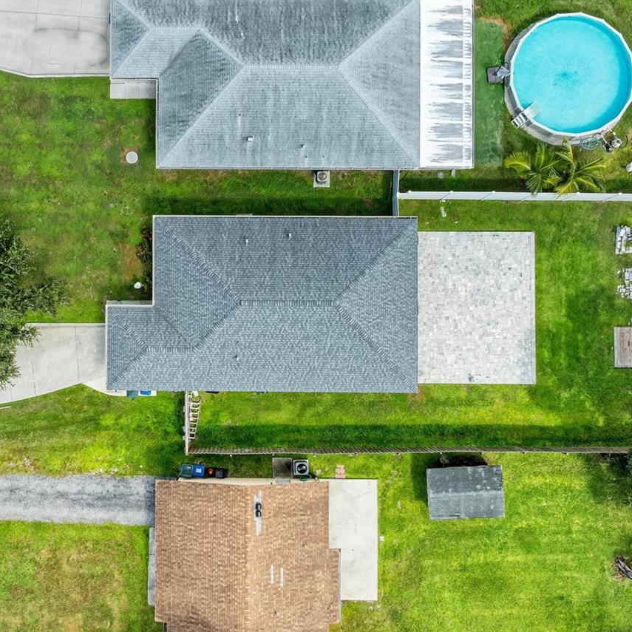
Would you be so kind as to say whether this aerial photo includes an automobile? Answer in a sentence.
No, no automobile is visible in the view.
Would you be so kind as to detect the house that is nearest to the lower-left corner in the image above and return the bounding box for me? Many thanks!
[155,478,343,632]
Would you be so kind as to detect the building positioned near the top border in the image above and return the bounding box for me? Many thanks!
[107,0,474,177]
